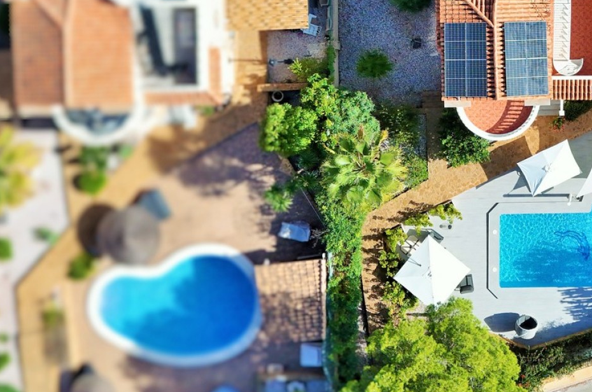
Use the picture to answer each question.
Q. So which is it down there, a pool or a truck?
pool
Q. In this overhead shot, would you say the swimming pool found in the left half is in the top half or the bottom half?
bottom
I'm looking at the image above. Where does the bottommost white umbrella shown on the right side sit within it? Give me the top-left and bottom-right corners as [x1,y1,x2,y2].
[394,237,470,306]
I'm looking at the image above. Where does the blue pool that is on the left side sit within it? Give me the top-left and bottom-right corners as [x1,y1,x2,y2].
[90,241,259,368]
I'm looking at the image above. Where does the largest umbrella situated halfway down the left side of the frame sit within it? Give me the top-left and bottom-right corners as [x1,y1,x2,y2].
[97,200,166,269]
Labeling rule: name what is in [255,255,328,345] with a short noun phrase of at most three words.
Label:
shed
